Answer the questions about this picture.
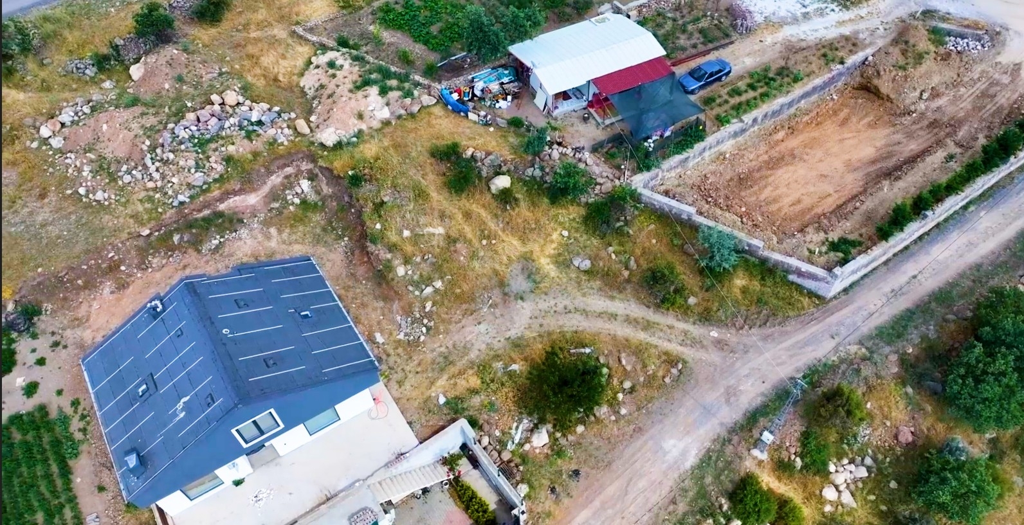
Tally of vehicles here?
1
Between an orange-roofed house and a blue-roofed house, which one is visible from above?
blue-roofed house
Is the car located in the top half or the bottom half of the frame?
top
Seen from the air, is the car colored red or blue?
blue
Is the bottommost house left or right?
left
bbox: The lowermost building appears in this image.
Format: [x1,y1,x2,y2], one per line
[84,257,379,517]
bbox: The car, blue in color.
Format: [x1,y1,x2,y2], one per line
[681,56,735,93]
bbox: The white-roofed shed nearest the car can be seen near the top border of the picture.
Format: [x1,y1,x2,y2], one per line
[503,16,664,124]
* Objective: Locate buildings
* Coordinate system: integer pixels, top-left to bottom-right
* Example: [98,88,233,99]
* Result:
[84,257,379,517]
[503,16,664,124]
